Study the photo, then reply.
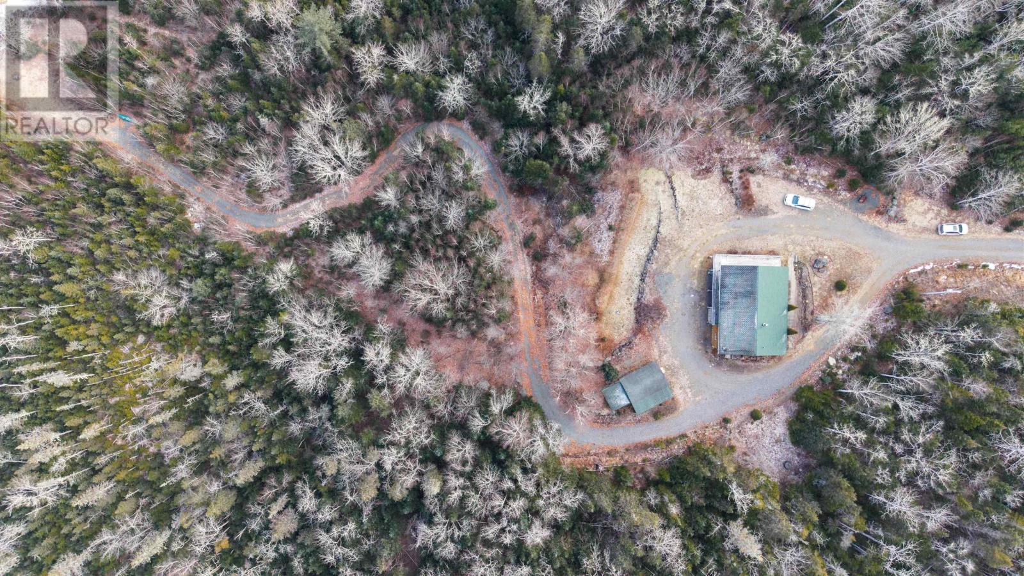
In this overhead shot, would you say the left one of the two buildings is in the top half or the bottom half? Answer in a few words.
bottom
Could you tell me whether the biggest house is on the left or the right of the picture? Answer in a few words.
right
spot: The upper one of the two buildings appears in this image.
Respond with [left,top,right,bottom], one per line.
[702,253,788,356]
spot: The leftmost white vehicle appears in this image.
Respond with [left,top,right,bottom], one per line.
[784,194,817,210]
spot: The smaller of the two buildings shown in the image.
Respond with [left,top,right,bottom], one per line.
[602,361,673,414]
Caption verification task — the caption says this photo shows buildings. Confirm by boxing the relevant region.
[702,253,788,356]
[602,361,673,414]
